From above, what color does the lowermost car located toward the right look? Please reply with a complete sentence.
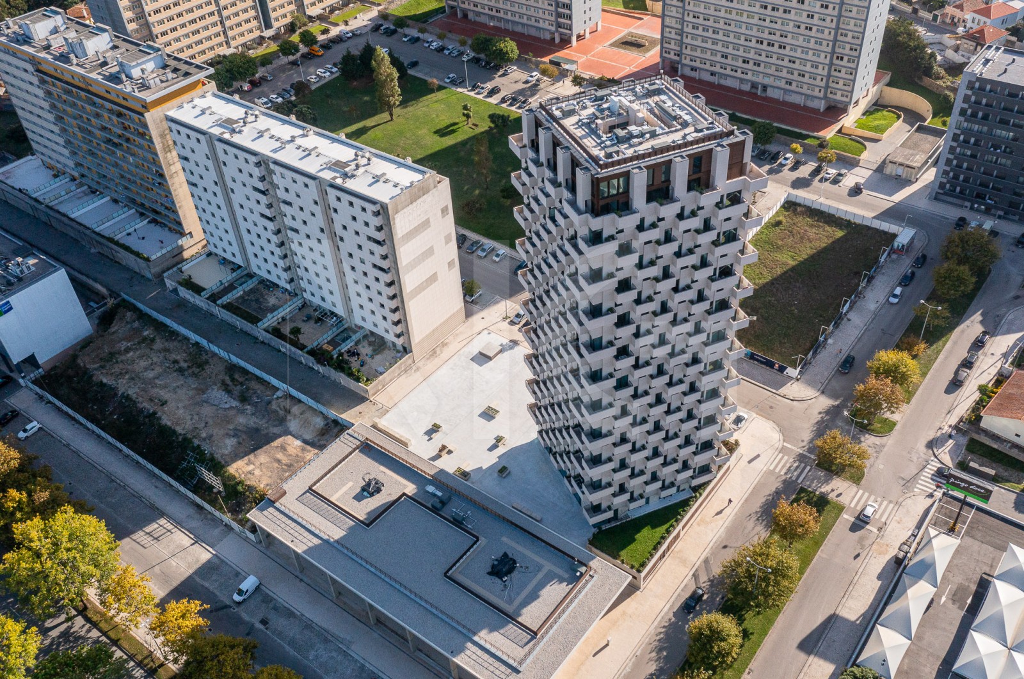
The color of the lowermost car located toward the right is black.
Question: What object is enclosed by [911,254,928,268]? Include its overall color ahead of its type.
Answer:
black car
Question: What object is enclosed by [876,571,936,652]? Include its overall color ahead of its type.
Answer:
white tent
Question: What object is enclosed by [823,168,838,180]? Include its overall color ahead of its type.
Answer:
white vehicle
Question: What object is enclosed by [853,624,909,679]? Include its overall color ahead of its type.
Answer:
white tent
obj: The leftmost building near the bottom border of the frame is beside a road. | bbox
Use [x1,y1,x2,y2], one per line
[245,423,629,679]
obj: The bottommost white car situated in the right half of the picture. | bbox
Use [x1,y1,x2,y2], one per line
[857,503,880,524]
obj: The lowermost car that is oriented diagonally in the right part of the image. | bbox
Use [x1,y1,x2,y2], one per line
[678,588,709,614]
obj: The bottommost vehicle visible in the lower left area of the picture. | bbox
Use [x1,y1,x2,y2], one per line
[230,571,262,604]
